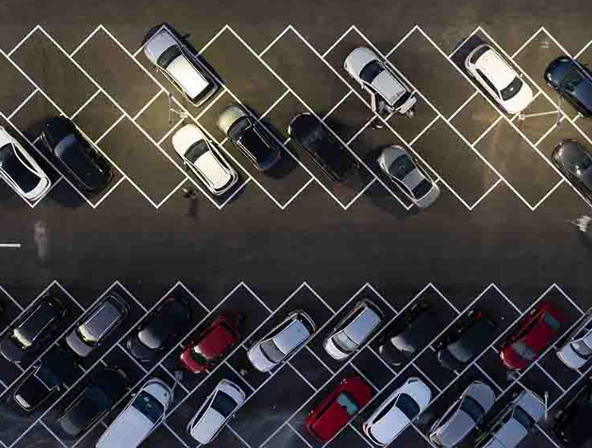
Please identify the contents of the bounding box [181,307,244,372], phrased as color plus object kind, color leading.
red car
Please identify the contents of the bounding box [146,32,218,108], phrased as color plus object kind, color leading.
white car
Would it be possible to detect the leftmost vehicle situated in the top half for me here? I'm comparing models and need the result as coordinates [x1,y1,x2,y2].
[0,125,54,203]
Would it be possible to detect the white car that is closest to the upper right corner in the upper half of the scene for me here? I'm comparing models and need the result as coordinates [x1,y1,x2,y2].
[464,42,531,114]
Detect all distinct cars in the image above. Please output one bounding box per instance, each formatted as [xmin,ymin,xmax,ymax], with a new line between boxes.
[187,378,247,448]
[464,42,531,114]
[38,114,115,199]
[146,32,218,108]
[0,291,72,365]
[247,305,317,372]
[0,125,54,203]
[290,113,361,188]
[174,124,238,196]
[220,104,284,175]
[357,375,432,448]
[321,297,385,362]
[379,143,444,211]
[67,289,134,359]
[436,305,500,372]
[498,299,570,371]
[550,375,592,448]
[544,56,592,120]
[305,375,374,447]
[550,137,592,206]
[425,379,497,448]
[181,307,244,372]
[343,45,417,117]
[556,306,592,369]
[475,388,547,448]
[378,297,442,364]
[55,365,129,442]
[127,292,195,364]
